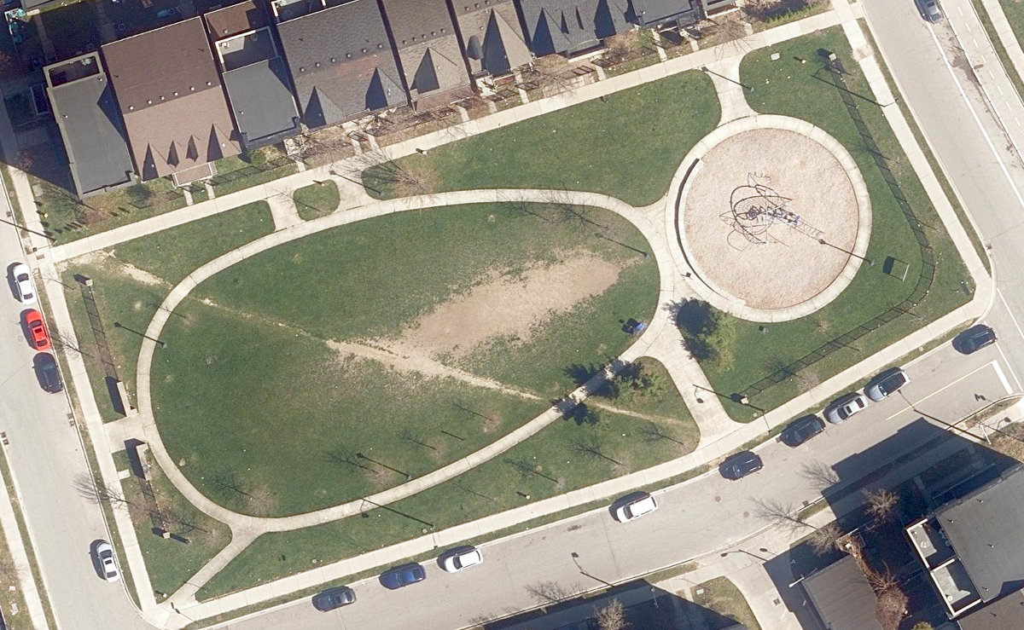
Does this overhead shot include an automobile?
Yes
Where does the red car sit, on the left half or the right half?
left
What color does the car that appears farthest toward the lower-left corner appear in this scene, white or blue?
white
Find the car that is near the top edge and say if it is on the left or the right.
right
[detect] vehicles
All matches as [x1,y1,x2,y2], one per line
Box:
[786,417,827,448]
[724,452,765,482]
[444,549,484,572]
[916,0,942,23]
[97,541,119,583]
[38,355,61,395]
[615,496,660,523]
[955,325,997,355]
[871,370,912,401]
[13,263,37,305]
[27,309,50,351]
[829,396,870,426]
[385,566,426,590]
[316,589,358,613]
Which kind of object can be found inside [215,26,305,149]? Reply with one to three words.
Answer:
house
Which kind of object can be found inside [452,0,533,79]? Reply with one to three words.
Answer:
house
